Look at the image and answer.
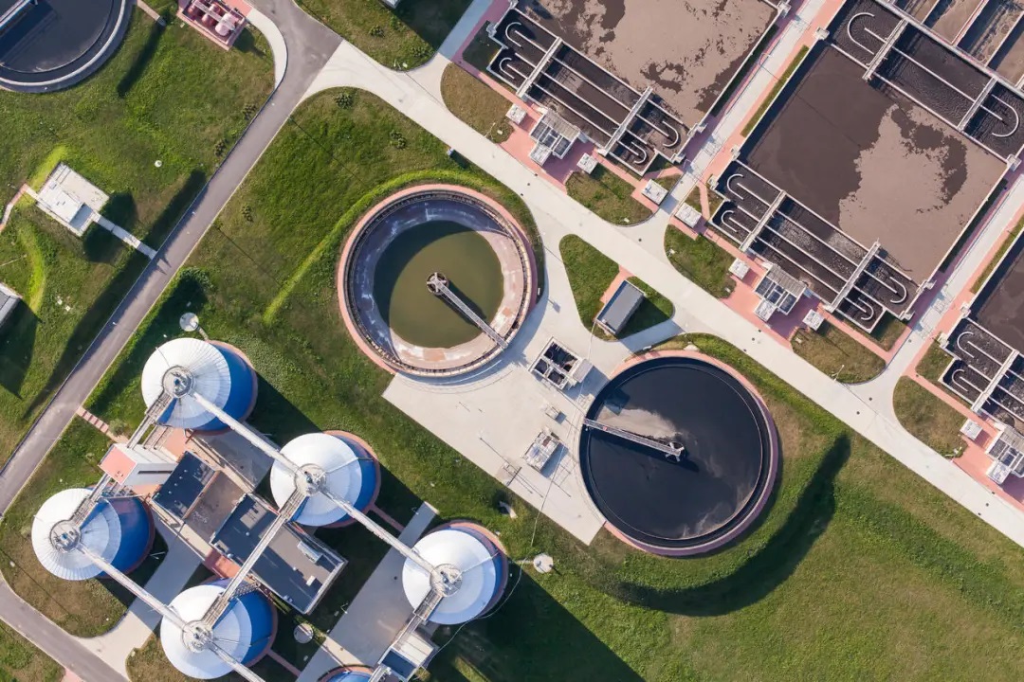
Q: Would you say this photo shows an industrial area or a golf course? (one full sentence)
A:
This image shows an industrial area.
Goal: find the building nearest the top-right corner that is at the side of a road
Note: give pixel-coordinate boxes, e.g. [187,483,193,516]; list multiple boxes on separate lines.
[753,259,810,321]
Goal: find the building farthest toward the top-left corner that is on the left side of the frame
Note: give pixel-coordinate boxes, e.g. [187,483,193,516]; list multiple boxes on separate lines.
[37,162,113,238]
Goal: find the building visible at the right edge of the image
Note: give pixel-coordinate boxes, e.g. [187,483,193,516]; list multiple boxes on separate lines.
[984,419,1024,482]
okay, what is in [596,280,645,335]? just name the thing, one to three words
building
